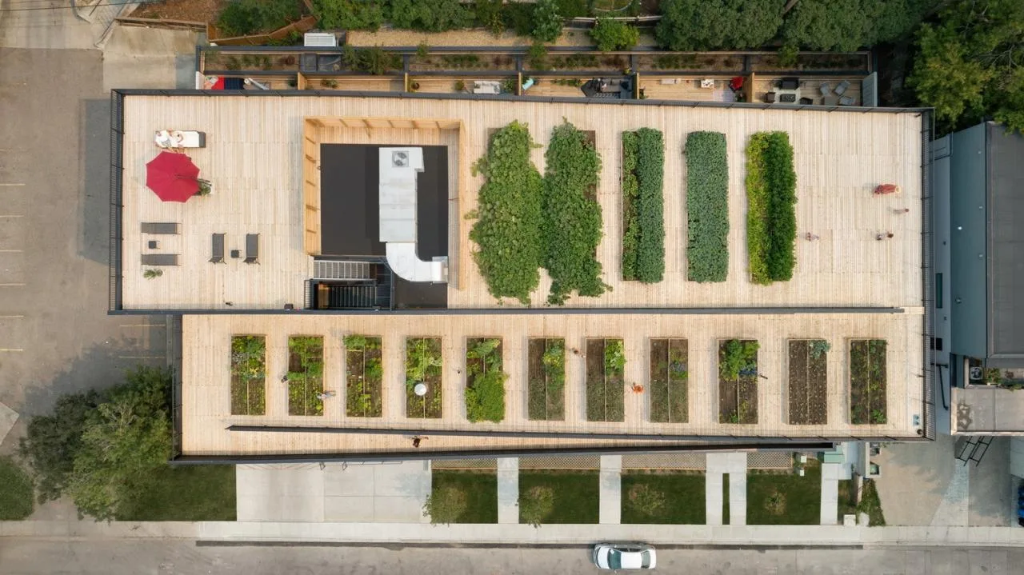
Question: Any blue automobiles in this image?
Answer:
No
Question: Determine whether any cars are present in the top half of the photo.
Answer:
No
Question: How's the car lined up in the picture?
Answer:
horizontally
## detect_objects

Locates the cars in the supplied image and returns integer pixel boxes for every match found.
[592,541,657,574]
